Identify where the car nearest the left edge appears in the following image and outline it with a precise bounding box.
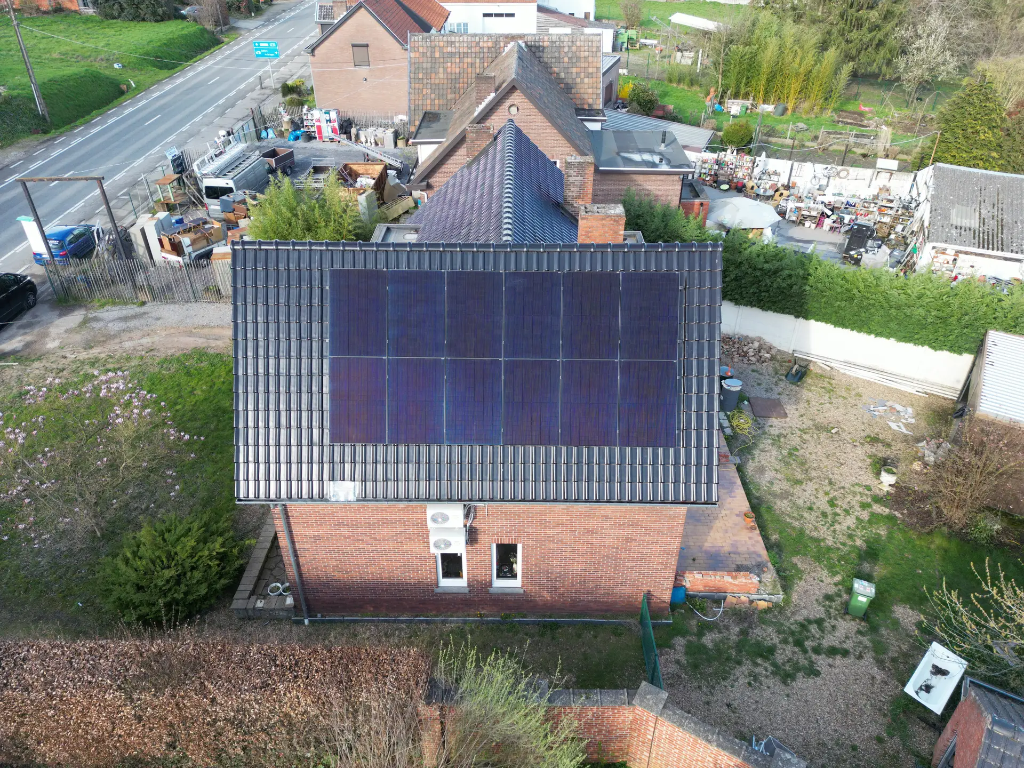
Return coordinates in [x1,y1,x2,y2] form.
[0,278,43,326]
